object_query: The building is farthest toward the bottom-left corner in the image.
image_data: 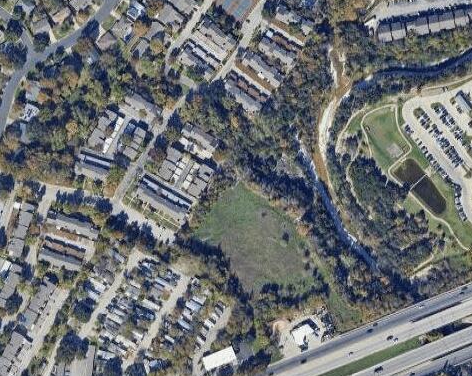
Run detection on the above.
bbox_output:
[0,332,34,376]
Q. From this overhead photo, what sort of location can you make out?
residential area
